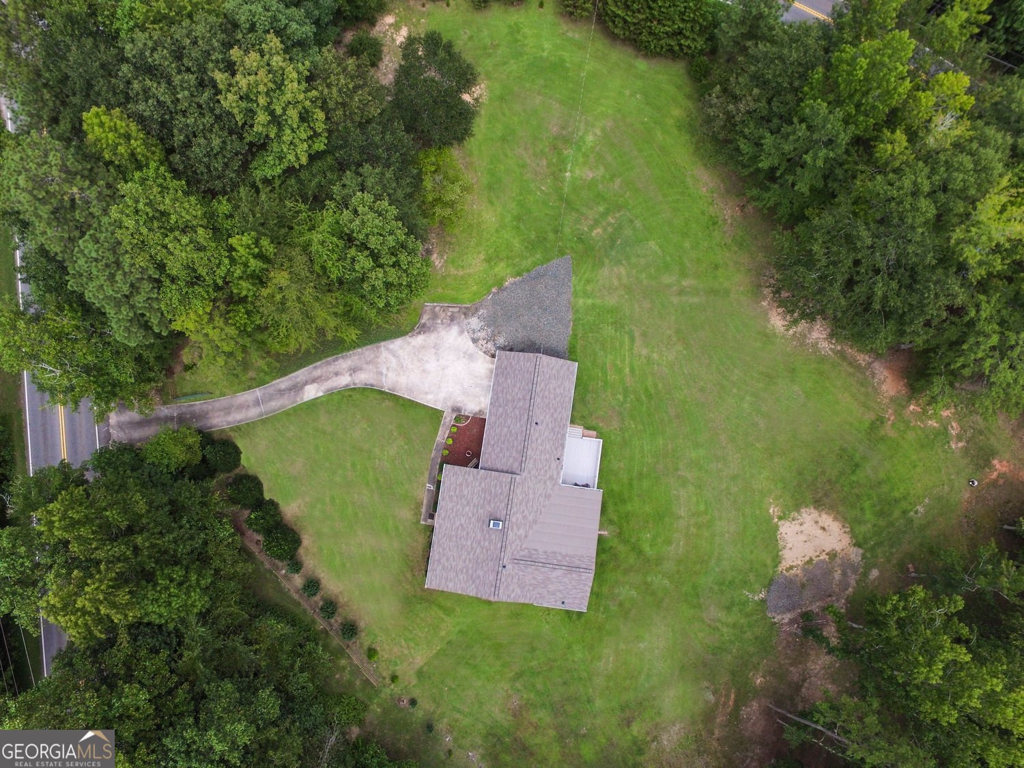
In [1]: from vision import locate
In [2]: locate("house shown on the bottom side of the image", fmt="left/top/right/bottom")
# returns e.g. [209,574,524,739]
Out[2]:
[424,351,603,614]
